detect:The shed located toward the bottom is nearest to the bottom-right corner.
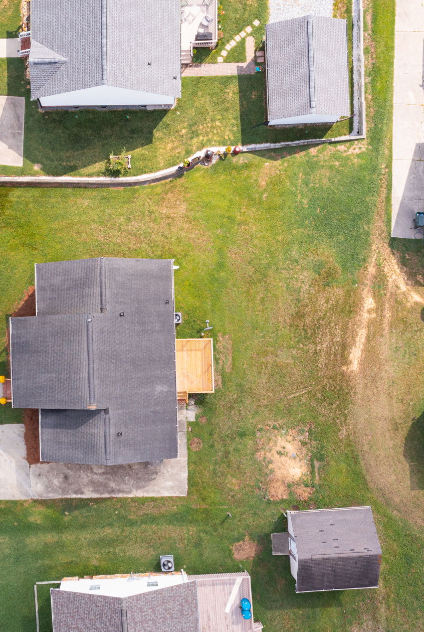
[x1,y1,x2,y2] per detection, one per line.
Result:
[286,505,382,594]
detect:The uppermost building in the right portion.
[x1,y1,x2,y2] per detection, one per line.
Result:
[251,15,355,128]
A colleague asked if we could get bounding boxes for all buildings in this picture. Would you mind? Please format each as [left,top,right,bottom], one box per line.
[286,505,382,594]
[49,573,200,632]
[16,0,182,112]
[5,258,180,464]
[251,15,355,128]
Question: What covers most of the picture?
grass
